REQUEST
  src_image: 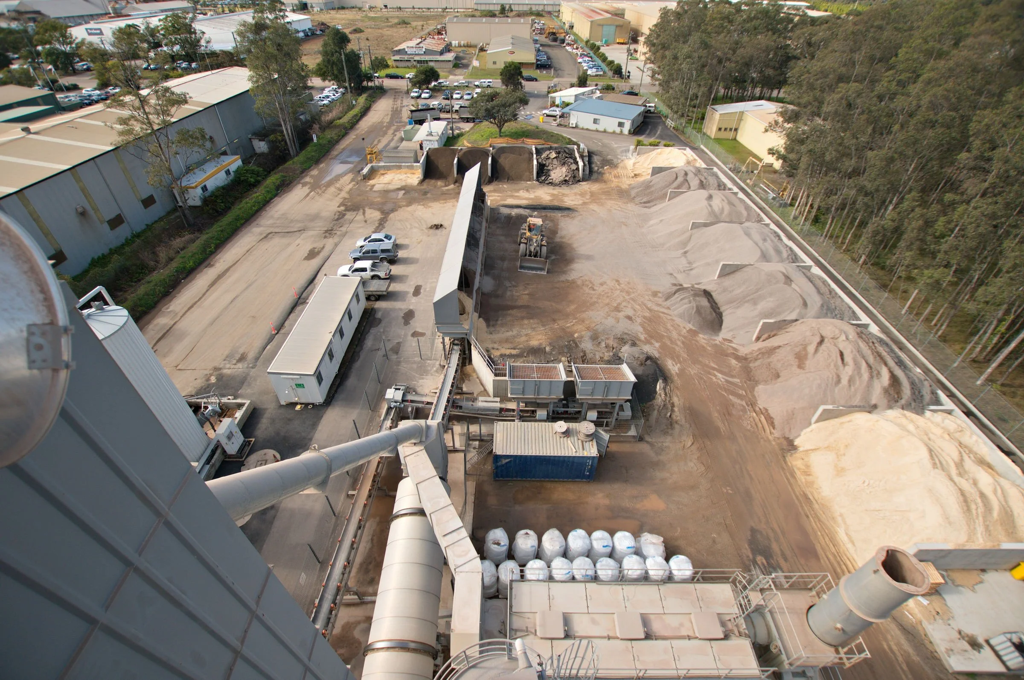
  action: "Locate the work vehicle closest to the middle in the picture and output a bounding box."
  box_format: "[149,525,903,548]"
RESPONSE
[518,214,557,274]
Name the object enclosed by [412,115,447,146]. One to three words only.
shed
